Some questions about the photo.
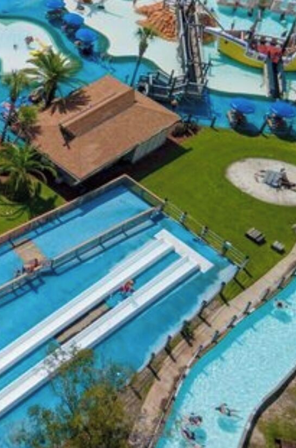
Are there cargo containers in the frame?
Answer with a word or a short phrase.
No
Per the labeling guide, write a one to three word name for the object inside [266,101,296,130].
umbrella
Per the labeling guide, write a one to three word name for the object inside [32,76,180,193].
building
